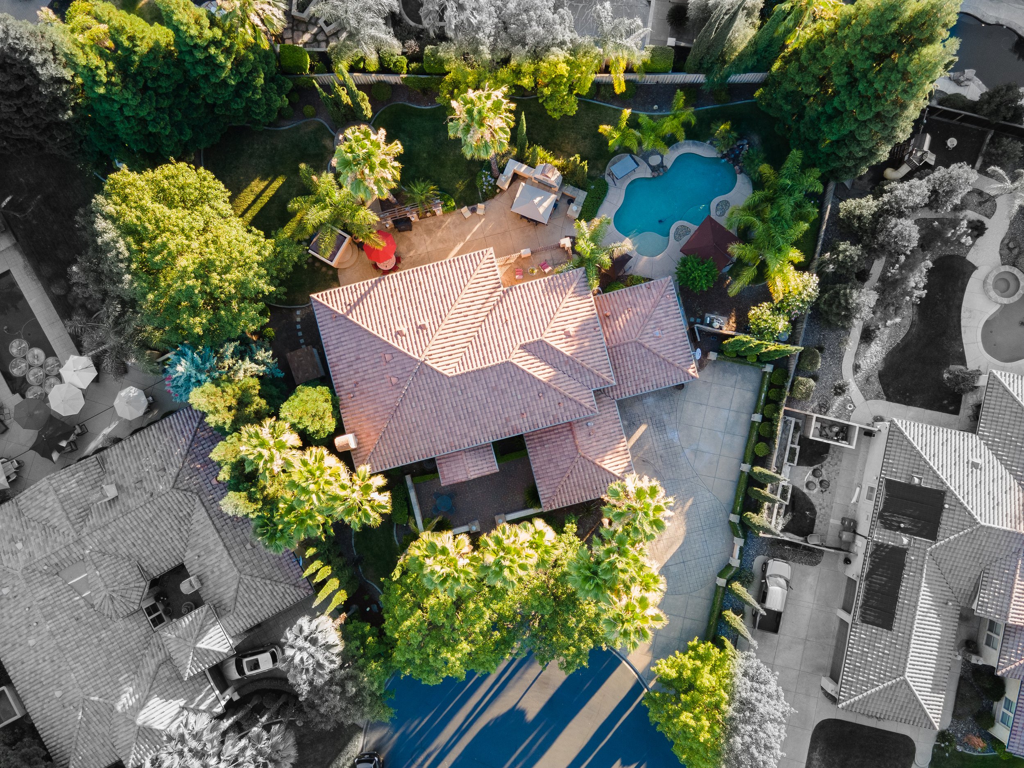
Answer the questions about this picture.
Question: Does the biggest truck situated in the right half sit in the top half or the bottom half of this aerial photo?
bottom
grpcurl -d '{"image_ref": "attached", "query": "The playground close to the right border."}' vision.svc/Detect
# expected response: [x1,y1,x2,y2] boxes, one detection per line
[852,118,987,192]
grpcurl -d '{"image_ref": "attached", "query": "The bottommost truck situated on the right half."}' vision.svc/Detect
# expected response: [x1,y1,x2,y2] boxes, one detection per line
[751,553,793,638]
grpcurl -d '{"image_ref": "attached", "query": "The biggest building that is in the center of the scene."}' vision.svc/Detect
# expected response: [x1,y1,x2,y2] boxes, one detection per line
[308,246,699,511]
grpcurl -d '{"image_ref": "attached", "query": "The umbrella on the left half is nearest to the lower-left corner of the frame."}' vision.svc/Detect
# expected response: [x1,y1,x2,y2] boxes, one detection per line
[0,461,25,491]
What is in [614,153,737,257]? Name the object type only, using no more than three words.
swimming pool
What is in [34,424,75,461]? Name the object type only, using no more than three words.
umbrella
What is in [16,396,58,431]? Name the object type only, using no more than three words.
umbrella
